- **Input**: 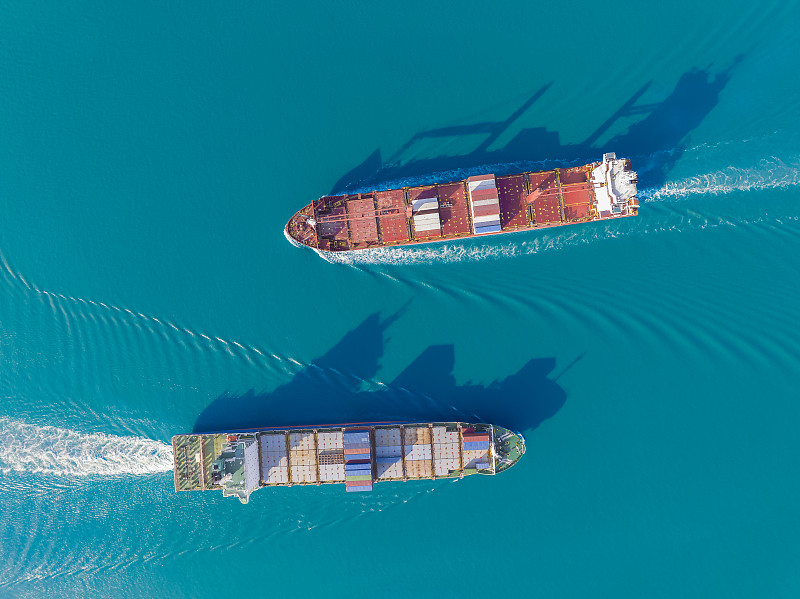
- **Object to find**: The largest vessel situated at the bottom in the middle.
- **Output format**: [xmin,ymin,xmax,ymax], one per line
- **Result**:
[170,419,527,505]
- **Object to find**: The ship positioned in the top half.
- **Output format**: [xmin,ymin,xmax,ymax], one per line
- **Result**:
[284,151,642,251]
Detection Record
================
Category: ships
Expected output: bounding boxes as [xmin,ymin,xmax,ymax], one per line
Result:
[170,419,527,505]
[284,151,642,251]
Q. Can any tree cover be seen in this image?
No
